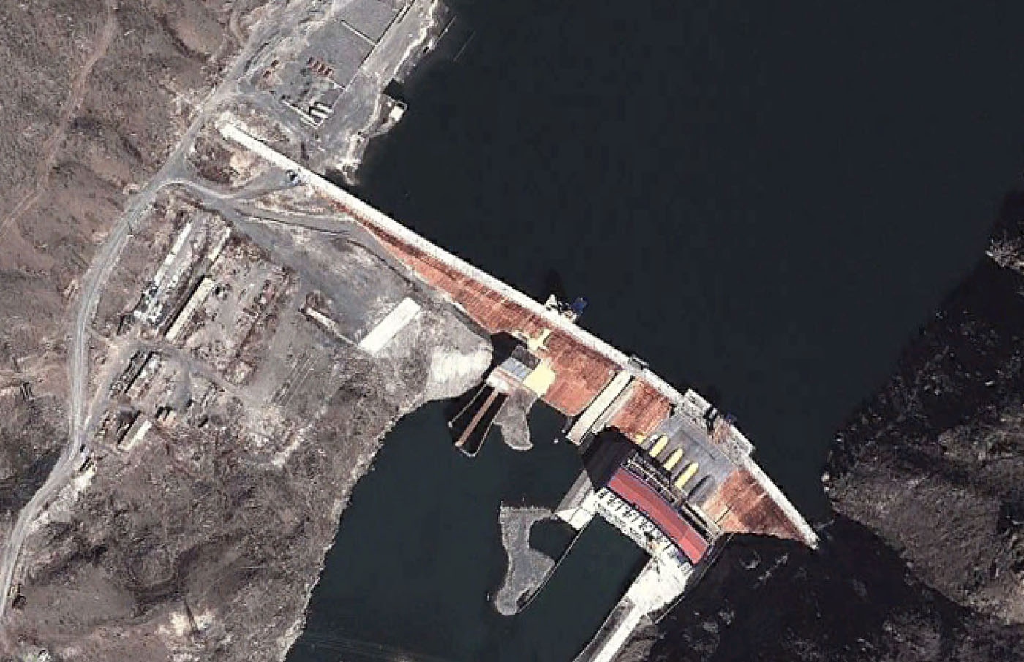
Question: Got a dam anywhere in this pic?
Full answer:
Yes, the photo shows a dam.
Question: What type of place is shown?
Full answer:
This looks like a port.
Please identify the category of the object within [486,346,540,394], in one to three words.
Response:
building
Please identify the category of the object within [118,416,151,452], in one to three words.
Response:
shed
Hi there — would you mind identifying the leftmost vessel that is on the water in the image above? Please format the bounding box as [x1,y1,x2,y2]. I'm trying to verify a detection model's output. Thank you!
[573,296,588,315]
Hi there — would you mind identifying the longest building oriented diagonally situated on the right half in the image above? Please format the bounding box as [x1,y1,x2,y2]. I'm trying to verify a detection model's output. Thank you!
[605,468,708,566]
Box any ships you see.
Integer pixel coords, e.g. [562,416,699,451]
[727,412,738,422]
[573,296,588,315]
